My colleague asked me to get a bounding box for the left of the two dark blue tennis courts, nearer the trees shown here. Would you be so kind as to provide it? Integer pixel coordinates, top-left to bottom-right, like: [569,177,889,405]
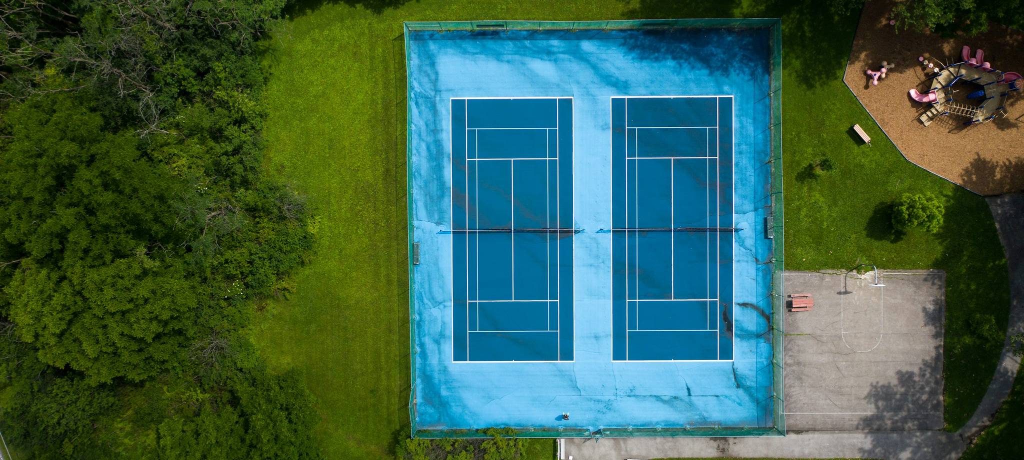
[451,96,575,362]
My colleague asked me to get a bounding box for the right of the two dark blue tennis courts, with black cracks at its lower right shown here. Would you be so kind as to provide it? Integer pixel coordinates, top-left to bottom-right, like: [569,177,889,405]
[610,95,735,362]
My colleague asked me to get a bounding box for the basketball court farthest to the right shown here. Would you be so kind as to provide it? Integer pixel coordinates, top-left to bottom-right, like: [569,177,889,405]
[776,270,945,431]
